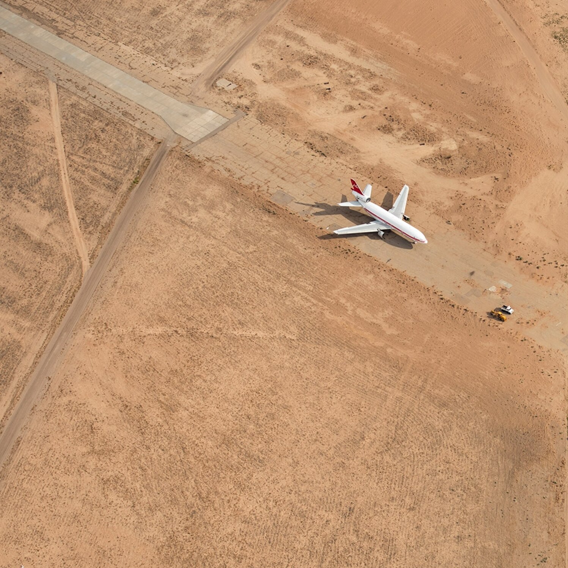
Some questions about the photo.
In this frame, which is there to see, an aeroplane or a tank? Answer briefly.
aeroplane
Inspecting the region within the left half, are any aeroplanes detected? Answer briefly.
No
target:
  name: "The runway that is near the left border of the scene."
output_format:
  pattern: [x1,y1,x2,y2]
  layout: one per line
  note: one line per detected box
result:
[0,6,211,139]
